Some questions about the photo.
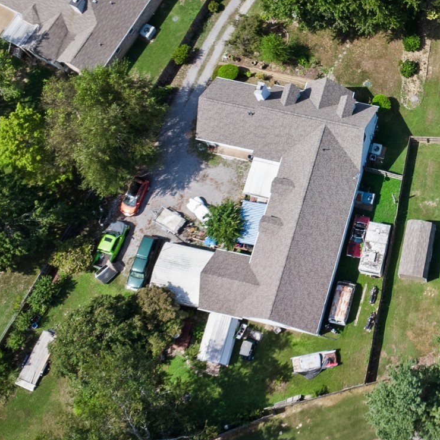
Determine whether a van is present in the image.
Yes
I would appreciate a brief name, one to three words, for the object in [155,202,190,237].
trailer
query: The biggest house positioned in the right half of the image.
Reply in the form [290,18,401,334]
[195,77,379,338]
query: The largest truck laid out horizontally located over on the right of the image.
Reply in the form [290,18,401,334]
[289,347,344,376]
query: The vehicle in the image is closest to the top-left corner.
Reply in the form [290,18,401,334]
[122,180,152,215]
